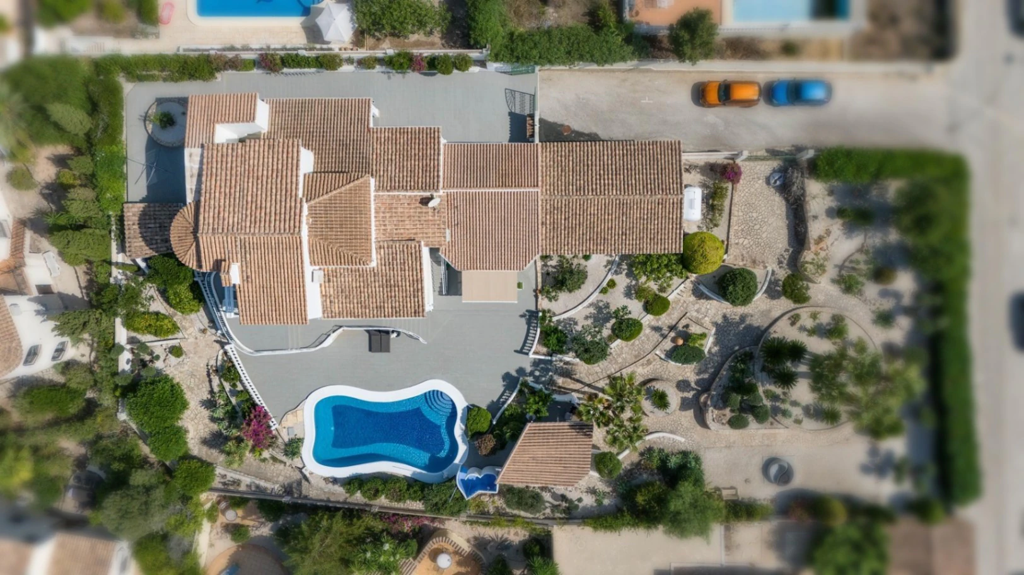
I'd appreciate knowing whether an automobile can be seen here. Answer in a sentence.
Yes, there's an automobile here.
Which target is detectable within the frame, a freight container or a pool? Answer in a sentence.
I can see a pool in this picture.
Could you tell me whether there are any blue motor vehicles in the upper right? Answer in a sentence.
Yes, there is a blue motor vehicle in the upper right.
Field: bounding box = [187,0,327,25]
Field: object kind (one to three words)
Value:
swimming pool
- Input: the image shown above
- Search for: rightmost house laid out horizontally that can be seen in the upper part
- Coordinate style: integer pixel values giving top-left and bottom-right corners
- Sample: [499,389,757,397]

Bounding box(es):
[122,91,684,327]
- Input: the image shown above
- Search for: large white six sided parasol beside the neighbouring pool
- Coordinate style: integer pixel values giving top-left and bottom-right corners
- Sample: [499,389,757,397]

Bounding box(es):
[315,1,357,42]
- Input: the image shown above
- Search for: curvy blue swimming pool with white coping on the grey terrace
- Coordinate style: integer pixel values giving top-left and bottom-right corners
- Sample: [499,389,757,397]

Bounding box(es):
[301,379,468,482]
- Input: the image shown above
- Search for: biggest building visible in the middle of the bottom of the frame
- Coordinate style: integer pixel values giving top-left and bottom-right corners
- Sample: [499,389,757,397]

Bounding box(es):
[498,416,593,487]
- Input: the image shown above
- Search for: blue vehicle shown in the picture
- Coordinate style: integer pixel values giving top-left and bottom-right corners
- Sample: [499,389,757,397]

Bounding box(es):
[770,74,832,105]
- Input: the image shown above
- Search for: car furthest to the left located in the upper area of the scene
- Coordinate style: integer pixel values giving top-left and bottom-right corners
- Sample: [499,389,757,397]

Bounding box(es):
[700,74,760,106]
